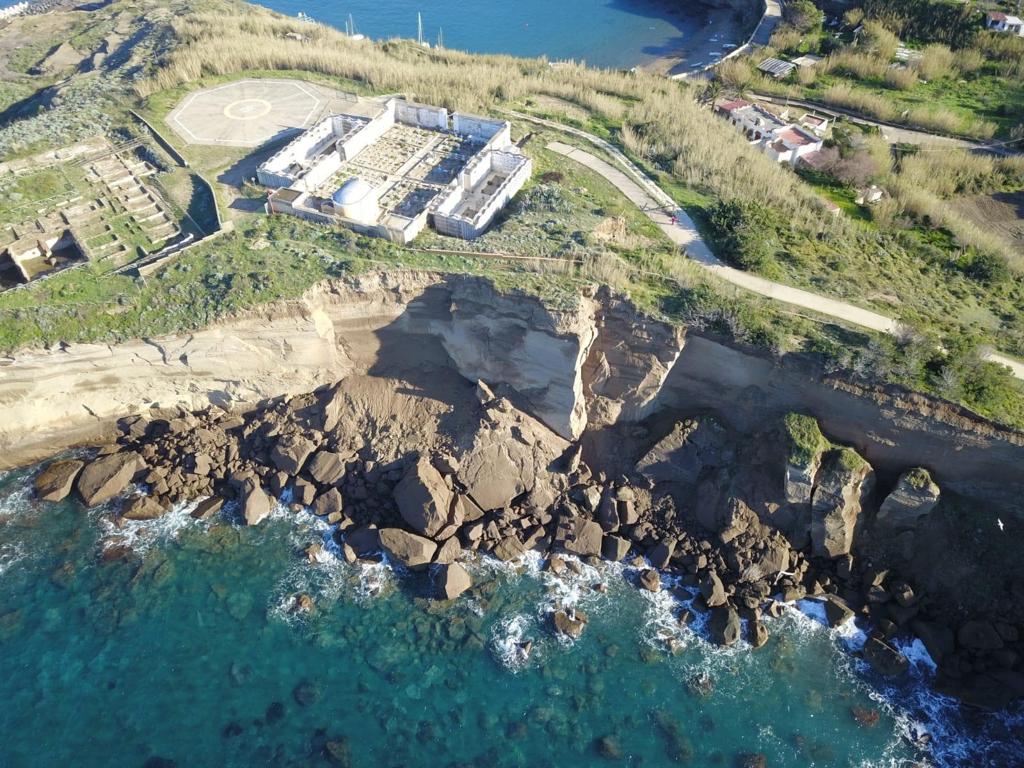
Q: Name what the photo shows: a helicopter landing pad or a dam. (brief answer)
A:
helicopter landing pad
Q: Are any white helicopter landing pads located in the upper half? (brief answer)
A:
Yes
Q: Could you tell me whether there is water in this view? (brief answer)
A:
Yes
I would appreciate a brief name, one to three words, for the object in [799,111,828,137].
building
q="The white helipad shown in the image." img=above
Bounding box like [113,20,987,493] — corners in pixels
[164,77,329,147]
